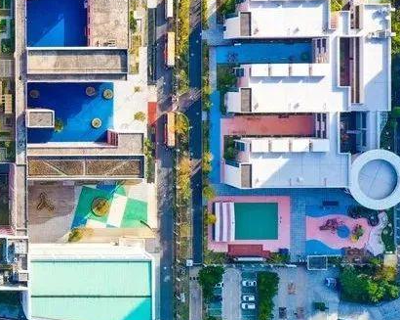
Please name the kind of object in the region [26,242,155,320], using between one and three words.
building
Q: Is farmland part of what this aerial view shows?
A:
No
